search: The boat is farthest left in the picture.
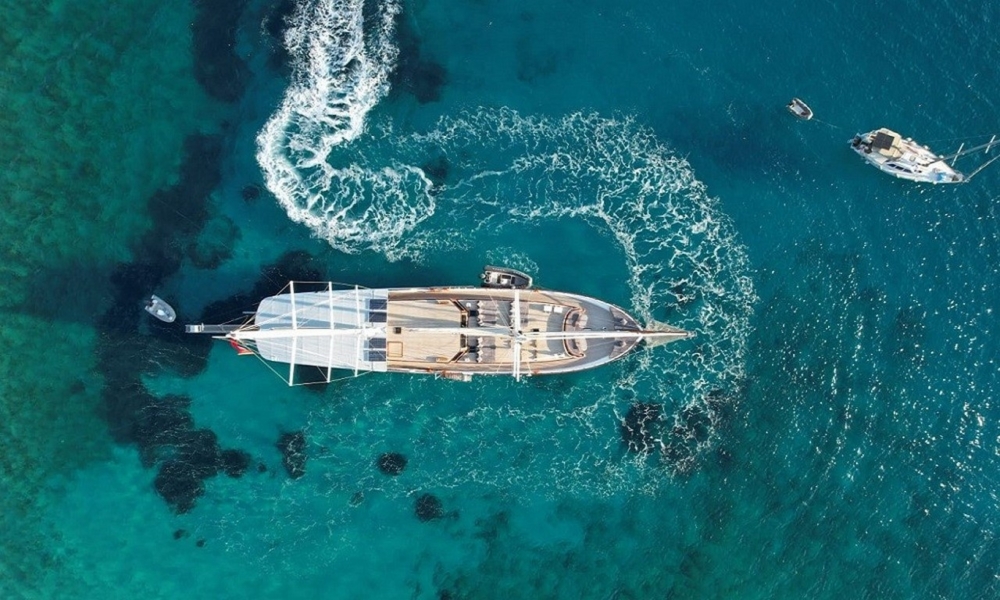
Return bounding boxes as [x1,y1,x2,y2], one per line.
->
[146,295,177,322]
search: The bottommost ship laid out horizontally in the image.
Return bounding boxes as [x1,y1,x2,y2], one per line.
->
[186,279,698,388]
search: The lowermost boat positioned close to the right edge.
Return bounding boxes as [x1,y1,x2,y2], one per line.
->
[847,120,1000,185]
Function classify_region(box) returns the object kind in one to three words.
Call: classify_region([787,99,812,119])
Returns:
boat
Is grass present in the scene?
No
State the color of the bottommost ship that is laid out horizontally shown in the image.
white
